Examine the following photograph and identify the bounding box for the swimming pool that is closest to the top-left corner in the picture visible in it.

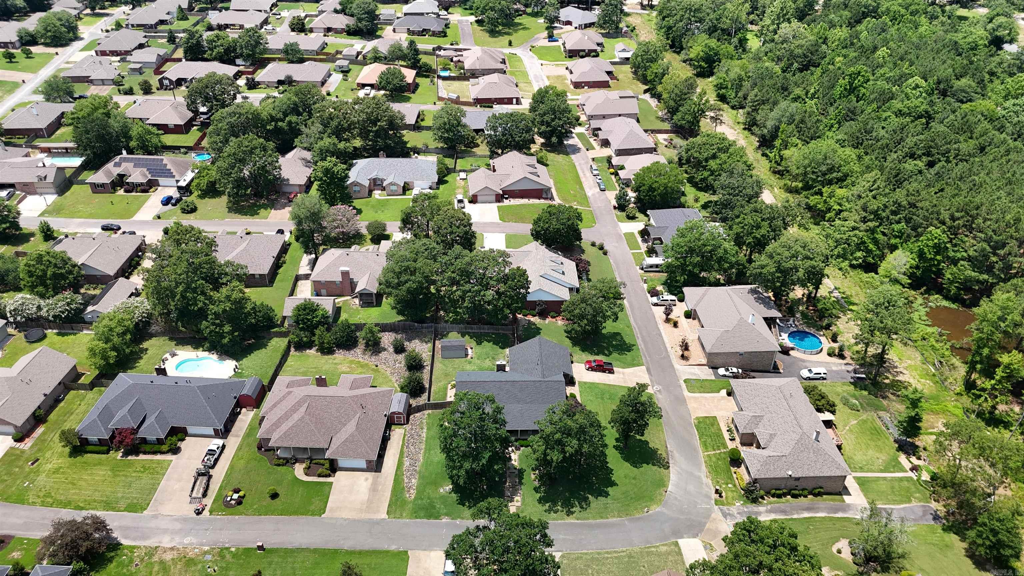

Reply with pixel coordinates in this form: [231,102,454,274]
[34,151,88,169]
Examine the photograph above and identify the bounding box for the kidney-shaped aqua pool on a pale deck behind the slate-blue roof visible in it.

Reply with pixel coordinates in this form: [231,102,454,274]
[160,351,237,378]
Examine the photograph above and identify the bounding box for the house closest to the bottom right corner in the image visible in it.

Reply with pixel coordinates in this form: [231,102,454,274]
[723,378,852,491]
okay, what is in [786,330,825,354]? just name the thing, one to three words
swimming pool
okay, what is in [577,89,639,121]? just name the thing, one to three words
house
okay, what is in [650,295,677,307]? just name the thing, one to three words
vehicle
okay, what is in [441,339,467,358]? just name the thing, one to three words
shed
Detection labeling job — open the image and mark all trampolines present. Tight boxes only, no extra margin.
[22,328,49,345]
